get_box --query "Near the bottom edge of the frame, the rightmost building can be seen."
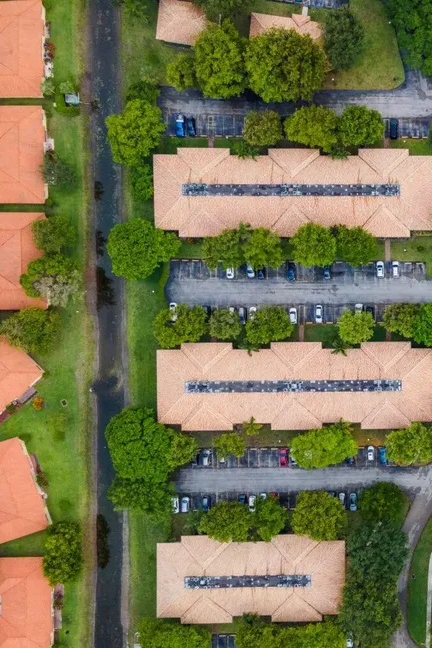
[156,534,347,624]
